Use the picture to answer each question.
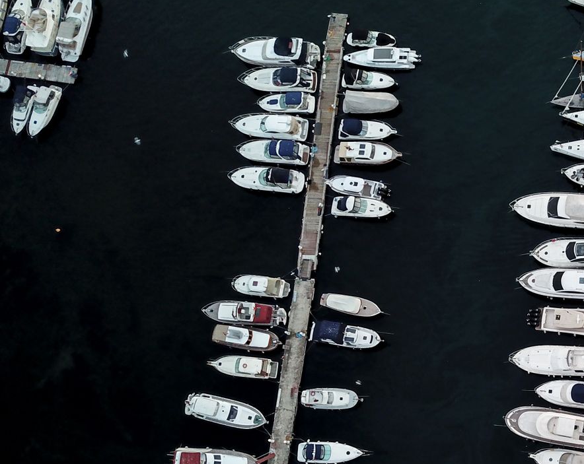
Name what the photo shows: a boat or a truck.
boat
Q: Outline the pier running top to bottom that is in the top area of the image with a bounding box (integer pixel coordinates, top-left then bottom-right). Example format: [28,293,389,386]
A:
[297,14,351,282]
